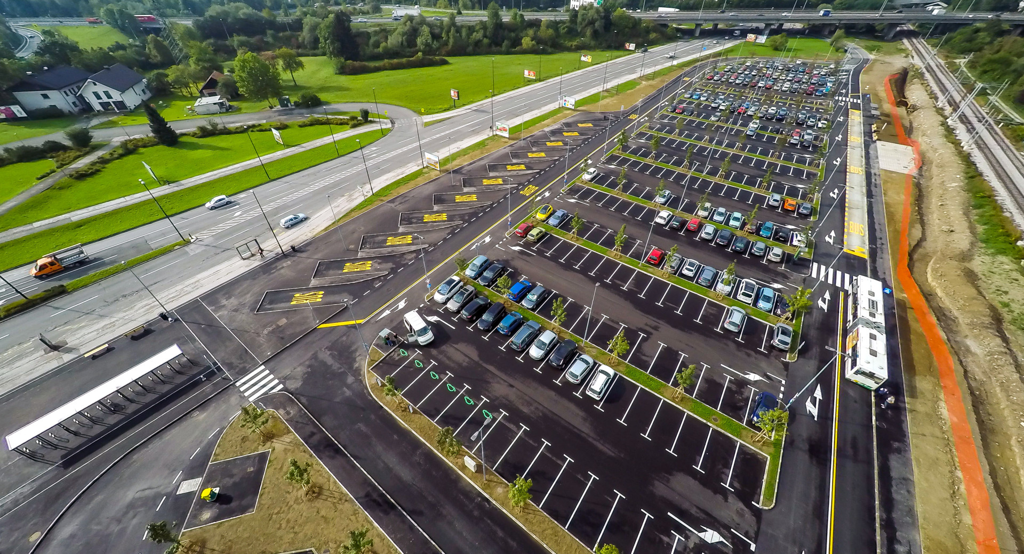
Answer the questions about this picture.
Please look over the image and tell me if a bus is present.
Yes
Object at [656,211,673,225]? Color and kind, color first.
white car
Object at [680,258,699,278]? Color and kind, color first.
white car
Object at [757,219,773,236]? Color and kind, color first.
blue car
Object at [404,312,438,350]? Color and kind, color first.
white van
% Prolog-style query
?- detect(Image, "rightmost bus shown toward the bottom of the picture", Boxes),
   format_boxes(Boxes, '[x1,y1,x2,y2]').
[841,275,888,394]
